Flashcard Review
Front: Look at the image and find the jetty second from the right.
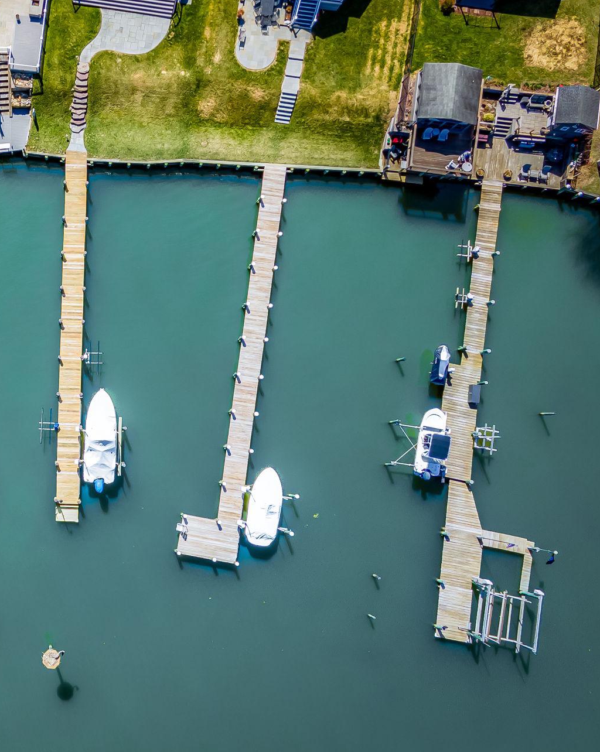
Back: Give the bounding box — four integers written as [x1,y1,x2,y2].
[172,168,287,566]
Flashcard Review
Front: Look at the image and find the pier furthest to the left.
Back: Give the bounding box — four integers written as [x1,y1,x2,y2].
[53,158,89,522]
